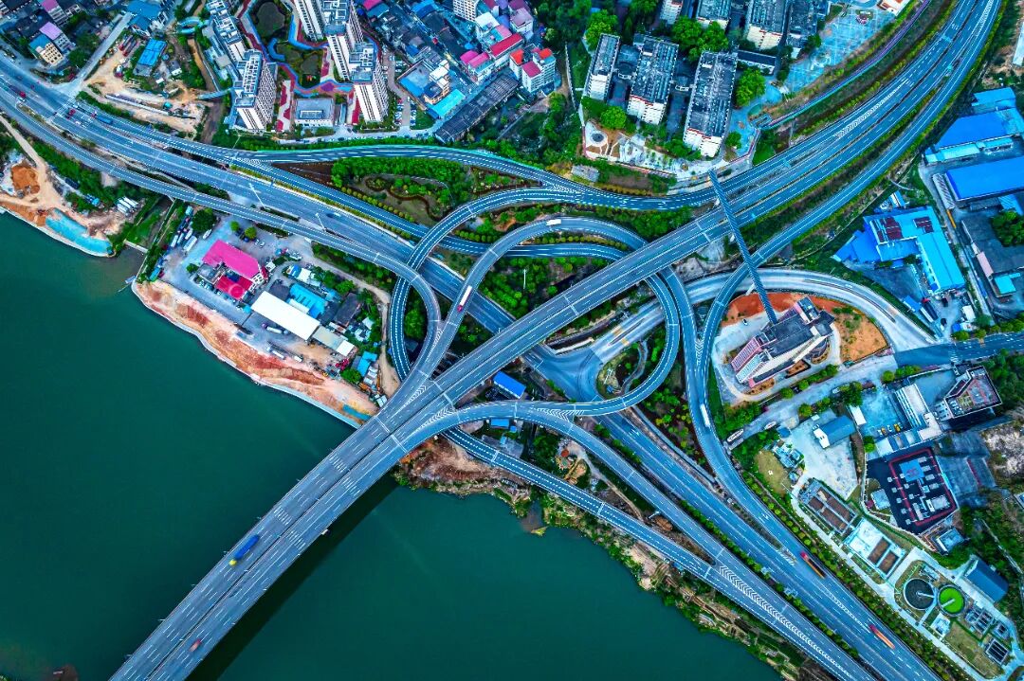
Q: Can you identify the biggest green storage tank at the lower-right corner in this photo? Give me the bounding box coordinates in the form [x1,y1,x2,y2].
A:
[939,586,968,614]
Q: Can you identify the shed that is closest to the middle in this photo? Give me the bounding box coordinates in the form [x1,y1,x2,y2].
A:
[493,371,527,399]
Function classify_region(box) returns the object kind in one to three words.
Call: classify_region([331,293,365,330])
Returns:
house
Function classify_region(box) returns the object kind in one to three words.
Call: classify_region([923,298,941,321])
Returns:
vehicle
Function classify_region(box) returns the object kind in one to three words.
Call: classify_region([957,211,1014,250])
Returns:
building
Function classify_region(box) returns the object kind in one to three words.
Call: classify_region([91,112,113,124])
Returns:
vehicle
